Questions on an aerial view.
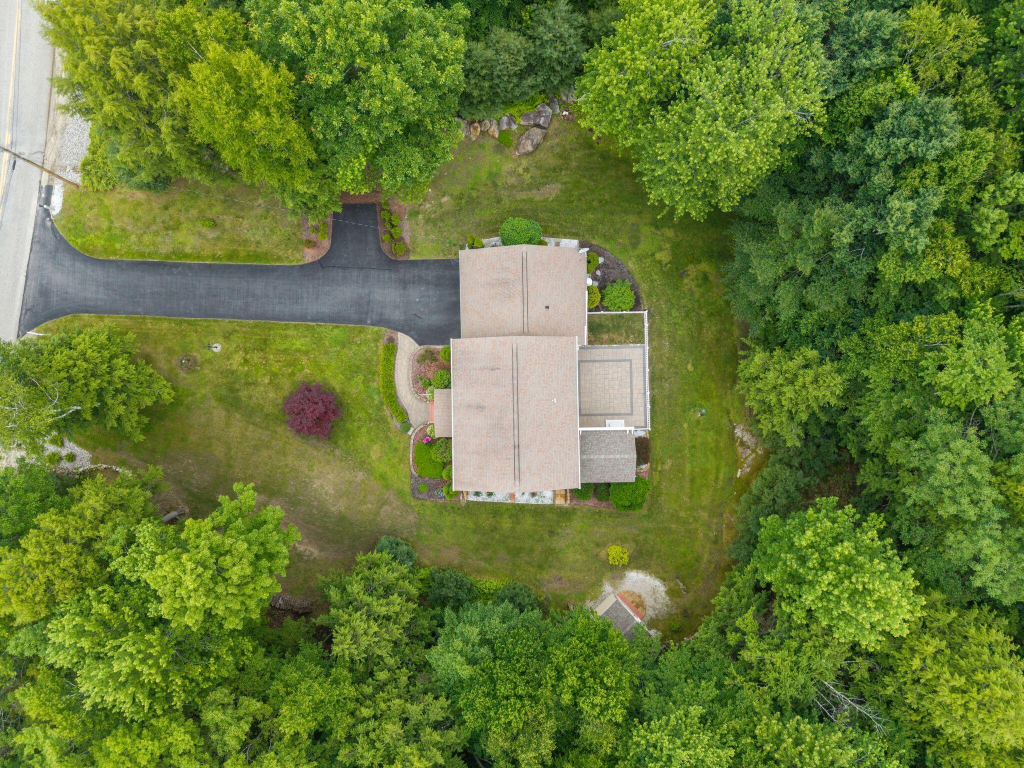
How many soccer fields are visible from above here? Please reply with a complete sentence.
No soccer fields are visible.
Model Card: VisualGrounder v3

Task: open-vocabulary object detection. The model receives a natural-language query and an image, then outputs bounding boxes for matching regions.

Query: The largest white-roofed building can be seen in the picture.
[427,244,639,493]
